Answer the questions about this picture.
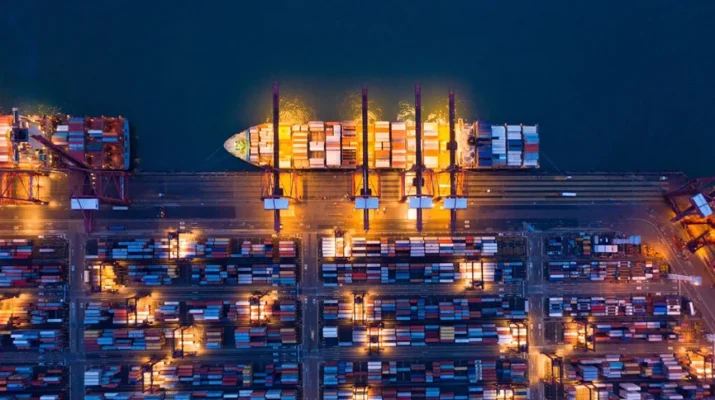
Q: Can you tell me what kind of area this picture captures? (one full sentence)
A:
What you see here is a port.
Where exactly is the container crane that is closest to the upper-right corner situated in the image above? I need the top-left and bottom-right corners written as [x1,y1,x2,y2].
[654,174,715,223]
